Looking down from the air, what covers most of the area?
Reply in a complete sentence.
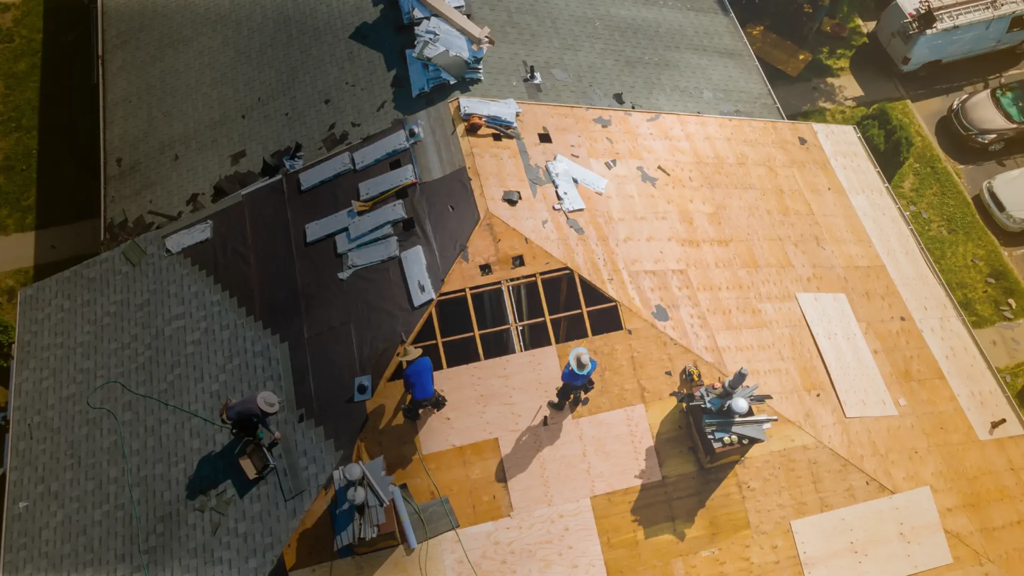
Most of the picture is covered by buildings.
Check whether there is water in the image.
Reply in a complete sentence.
No, the scene doesn't show any water.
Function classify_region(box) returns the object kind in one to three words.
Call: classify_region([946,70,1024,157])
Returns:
car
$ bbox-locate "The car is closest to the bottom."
[981,169,1024,243]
